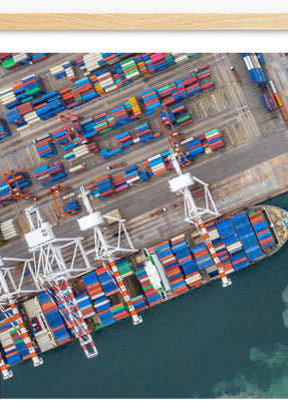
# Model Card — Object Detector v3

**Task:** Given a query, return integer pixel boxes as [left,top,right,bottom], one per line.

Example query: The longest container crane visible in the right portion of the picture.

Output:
[164,148,231,285]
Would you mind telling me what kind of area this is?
port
